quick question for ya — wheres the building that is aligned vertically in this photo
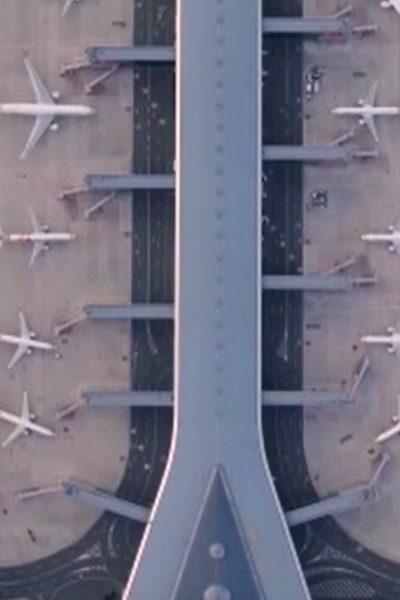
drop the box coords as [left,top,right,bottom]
[124,0,311,600]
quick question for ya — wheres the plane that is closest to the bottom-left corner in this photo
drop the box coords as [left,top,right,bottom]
[0,389,55,447]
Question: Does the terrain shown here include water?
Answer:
No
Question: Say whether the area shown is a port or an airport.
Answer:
airport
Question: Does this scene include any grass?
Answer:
No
